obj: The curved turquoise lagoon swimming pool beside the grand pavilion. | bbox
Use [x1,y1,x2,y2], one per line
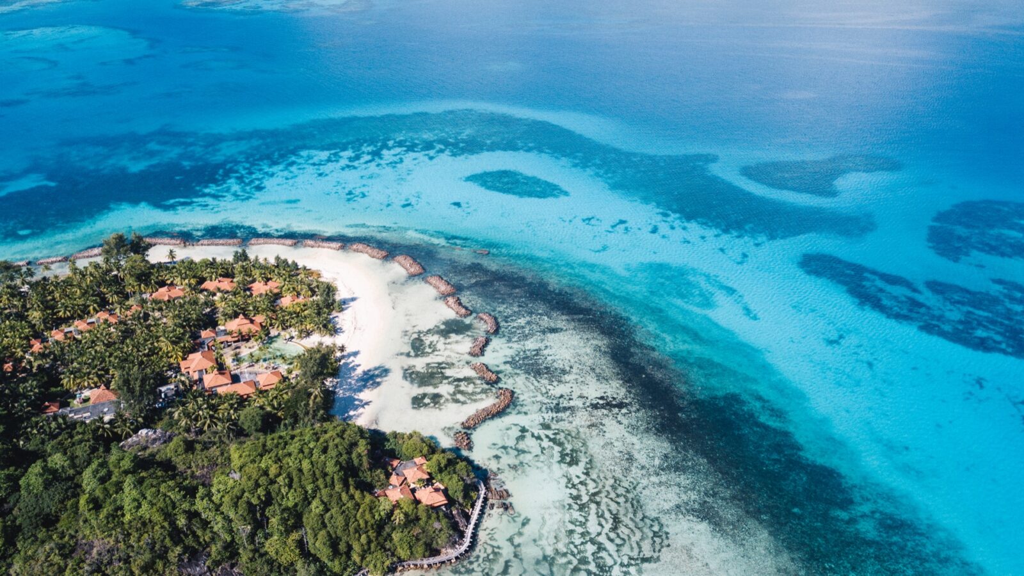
[238,332,306,367]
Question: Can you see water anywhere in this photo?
Yes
